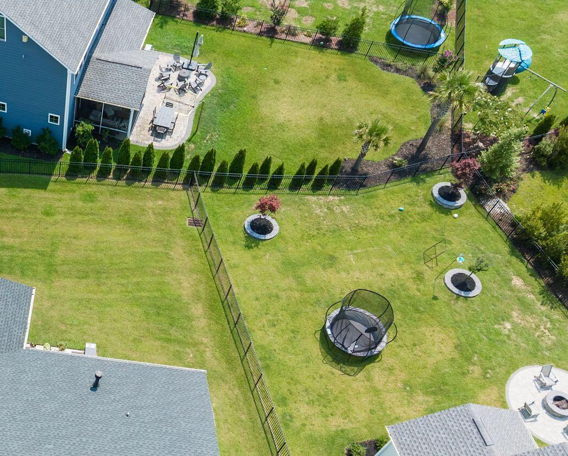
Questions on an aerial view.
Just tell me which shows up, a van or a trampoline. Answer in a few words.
trampoline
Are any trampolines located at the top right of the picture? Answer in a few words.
Yes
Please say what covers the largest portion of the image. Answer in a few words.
grass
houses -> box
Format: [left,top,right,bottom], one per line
[0,0,159,153]
[0,278,220,456]
[375,403,568,456]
